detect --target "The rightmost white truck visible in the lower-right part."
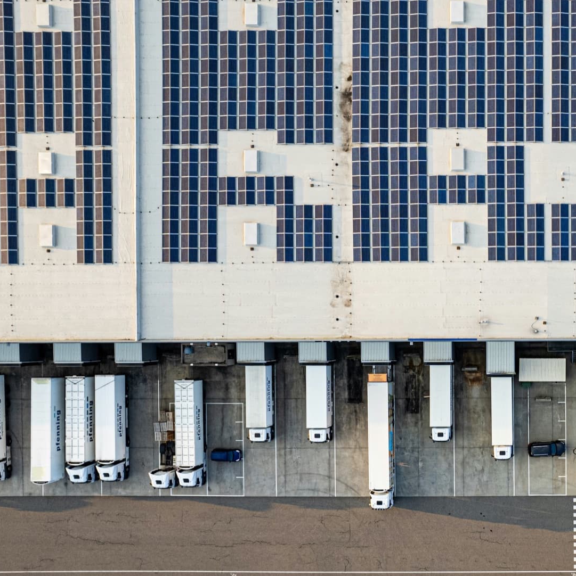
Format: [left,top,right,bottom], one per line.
[490,378,515,460]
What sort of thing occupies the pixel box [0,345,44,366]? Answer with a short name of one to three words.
house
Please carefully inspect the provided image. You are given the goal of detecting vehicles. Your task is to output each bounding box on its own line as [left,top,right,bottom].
[208,448,242,464]
[95,374,132,481]
[64,376,101,483]
[0,374,14,481]
[490,378,515,460]
[429,365,455,442]
[173,379,208,487]
[528,441,566,458]
[368,366,395,508]
[307,365,334,443]
[246,361,276,442]
[148,440,181,489]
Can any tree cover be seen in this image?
No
